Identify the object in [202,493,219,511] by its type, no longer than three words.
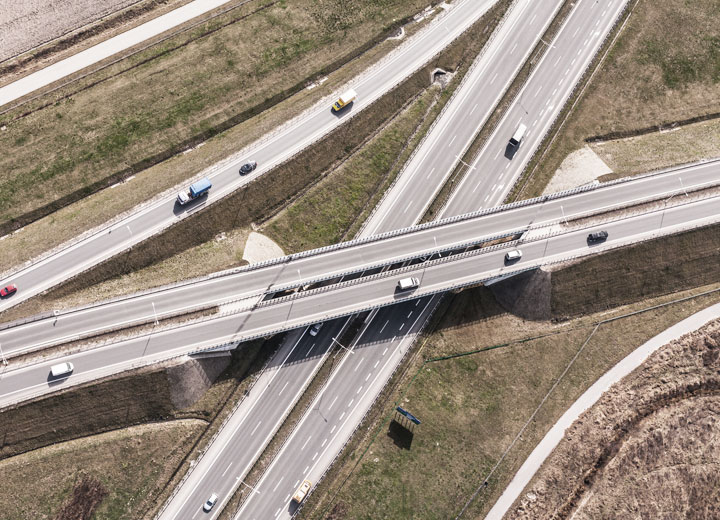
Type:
car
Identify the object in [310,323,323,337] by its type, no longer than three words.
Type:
vehicle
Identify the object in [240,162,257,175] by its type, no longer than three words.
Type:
vehicle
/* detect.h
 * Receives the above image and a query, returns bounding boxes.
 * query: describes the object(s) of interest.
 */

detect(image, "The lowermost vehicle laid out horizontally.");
[48,363,75,377]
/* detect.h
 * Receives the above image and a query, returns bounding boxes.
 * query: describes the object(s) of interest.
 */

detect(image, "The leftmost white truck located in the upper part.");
[177,179,210,206]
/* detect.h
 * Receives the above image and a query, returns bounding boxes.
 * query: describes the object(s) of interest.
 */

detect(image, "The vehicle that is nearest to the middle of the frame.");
[397,278,419,291]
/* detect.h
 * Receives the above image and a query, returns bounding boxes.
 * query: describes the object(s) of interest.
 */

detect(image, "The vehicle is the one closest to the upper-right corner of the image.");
[509,121,529,145]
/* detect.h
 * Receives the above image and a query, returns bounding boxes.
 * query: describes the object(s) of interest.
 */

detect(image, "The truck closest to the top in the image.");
[330,90,357,115]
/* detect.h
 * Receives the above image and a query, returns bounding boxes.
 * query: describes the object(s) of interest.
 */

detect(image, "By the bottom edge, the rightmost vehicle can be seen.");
[292,480,311,504]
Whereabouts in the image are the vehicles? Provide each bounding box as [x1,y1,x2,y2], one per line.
[202,493,219,511]
[330,90,357,115]
[240,162,257,175]
[509,121,529,145]
[177,179,210,206]
[48,363,75,377]
[292,480,311,504]
[505,251,522,261]
[0,284,18,298]
[310,323,323,337]
[397,278,419,291]
[589,232,606,242]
